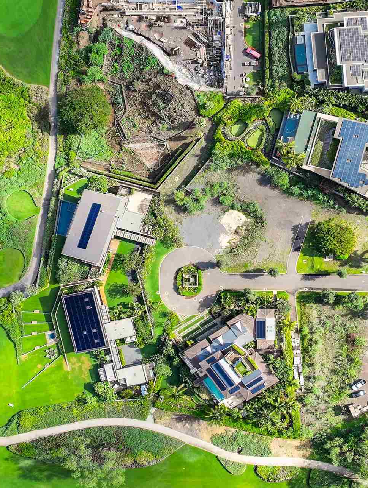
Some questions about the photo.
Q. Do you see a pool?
Yes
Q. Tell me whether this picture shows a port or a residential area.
residential area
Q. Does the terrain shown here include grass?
Yes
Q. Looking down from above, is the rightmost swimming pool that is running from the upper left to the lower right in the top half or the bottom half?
bottom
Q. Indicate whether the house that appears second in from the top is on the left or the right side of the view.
right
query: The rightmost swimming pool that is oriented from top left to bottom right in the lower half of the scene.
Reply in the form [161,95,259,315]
[203,375,226,403]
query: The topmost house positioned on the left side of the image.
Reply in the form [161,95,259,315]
[62,187,156,266]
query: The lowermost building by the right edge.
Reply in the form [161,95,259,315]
[272,110,368,199]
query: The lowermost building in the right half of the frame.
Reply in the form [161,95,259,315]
[179,308,279,408]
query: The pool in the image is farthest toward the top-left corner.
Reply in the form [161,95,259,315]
[56,199,79,237]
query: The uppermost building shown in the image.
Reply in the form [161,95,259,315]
[304,8,368,90]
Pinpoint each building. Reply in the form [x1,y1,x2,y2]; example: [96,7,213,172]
[62,187,156,266]
[272,110,368,199]
[179,308,279,408]
[62,288,156,387]
[304,8,368,90]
